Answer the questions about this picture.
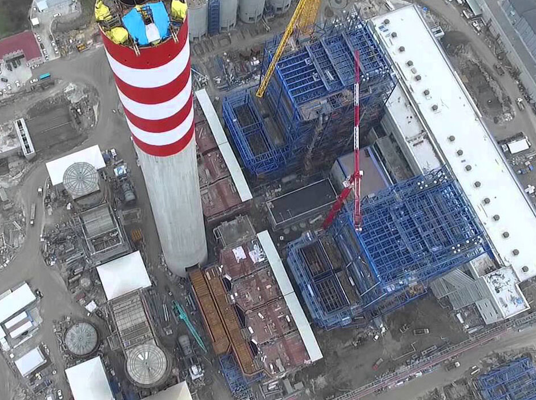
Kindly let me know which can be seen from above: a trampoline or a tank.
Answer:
tank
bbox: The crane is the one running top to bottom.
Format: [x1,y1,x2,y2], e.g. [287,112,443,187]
[321,50,363,235]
